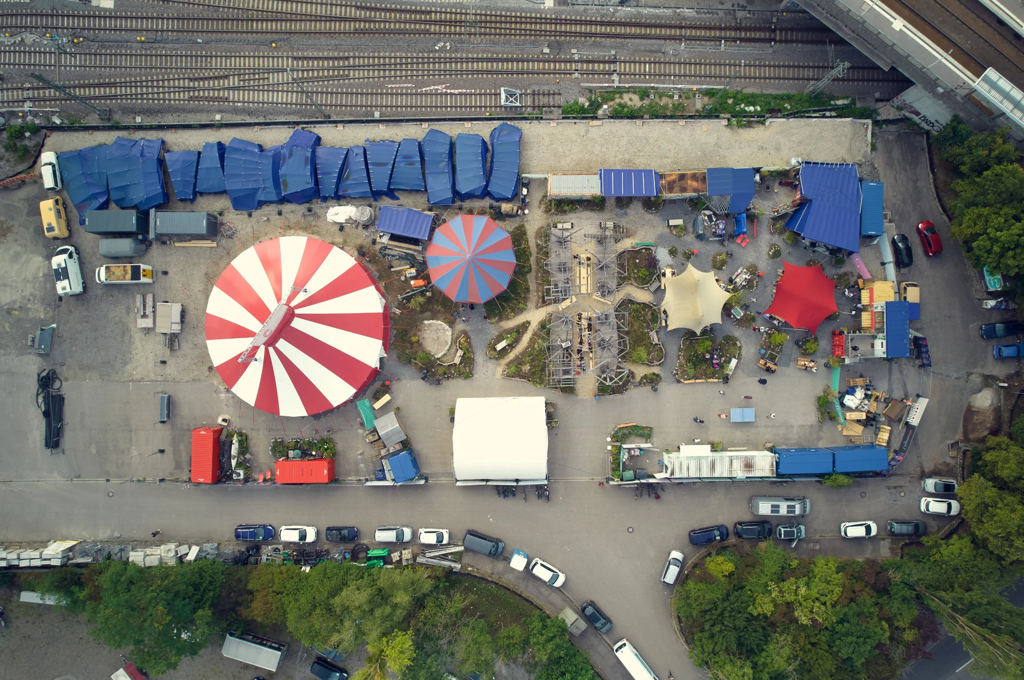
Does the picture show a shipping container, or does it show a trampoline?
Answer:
shipping container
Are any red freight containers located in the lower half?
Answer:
Yes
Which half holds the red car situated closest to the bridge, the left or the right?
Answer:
right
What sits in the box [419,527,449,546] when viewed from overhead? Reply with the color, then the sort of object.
white car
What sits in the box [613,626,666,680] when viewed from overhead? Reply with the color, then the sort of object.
white bus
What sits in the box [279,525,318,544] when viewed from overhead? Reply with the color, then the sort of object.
white car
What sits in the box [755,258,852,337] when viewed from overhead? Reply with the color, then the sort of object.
red tent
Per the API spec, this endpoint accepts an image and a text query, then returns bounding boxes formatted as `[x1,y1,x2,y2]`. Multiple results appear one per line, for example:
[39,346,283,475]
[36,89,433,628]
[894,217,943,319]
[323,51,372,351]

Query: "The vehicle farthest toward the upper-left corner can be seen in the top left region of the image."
[42,153,68,195]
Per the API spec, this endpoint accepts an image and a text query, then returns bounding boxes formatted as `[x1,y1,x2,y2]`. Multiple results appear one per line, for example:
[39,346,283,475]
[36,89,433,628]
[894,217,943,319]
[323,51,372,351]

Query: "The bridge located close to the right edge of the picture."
[781,0,1024,176]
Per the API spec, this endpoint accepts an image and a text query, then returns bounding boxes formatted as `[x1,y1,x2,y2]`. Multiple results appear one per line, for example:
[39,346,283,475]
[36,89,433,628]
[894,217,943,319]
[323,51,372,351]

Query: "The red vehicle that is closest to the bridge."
[915,221,943,258]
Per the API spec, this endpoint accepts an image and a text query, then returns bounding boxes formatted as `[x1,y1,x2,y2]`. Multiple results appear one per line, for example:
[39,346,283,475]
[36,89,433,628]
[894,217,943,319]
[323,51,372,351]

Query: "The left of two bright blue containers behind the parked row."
[771,449,833,475]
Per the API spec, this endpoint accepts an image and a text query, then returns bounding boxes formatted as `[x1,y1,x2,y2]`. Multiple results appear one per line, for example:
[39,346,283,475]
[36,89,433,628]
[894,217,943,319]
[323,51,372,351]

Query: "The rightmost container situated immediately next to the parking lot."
[824,446,887,472]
